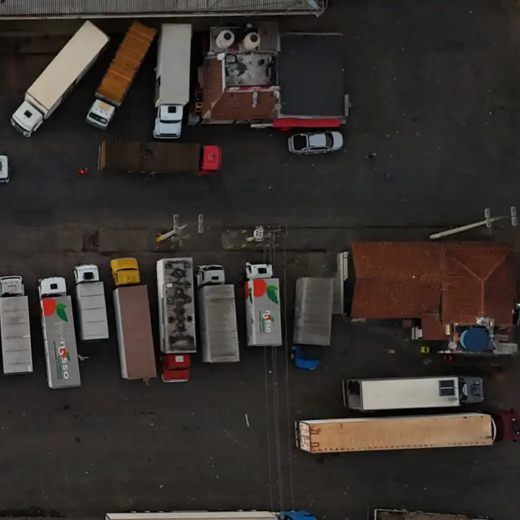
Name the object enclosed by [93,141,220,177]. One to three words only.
truck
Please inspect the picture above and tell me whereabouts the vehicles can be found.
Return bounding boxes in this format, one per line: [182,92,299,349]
[151,24,191,143]
[93,141,220,177]
[286,129,343,156]
[34,274,80,389]
[102,508,317,520]
[357,507,495,520]
[106,256,156,379]
[193,266,240,364]
[154,258,196,383]
[339,375,483,410]
[7,24,109,142]
[83,24,157,131]
[70,262,110,342]
[291,408,520,454]
[287,278,331,371]
[240,260,281,347]
[0,277,33,375]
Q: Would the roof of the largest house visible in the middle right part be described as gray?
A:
No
